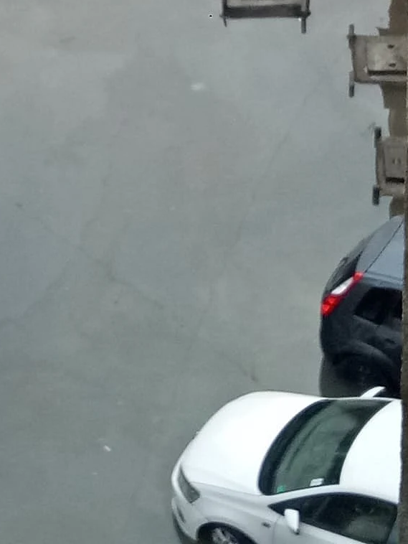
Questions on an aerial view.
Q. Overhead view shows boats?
No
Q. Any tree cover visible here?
No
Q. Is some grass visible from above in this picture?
No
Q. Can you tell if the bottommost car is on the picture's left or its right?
right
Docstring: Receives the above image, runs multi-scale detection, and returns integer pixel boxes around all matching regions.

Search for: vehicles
[324,221,404,398]
[168,388,400,544]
